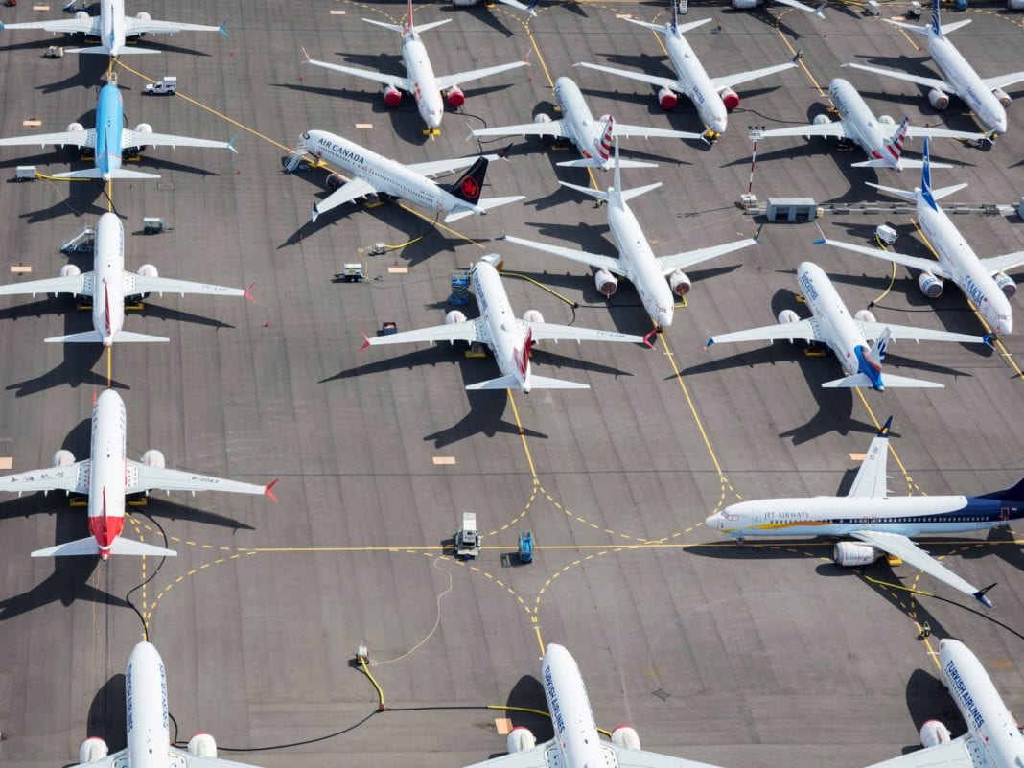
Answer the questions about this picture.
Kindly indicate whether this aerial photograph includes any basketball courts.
No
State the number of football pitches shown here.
zero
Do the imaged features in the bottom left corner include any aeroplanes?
Yes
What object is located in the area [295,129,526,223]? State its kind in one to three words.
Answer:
airplane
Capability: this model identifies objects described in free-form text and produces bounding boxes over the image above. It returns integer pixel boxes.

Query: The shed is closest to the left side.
[764,198,819,223]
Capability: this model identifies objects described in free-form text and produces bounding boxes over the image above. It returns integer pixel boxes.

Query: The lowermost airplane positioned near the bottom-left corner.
[72,643,253,768]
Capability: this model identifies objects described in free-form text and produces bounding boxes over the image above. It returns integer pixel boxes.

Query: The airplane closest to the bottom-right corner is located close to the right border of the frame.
[877,640,1024,768]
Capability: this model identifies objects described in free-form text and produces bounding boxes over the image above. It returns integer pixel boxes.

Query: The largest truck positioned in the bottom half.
[454,512,480,556]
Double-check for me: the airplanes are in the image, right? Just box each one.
[0,389,278,562]
[573,0,796,131]
[0,83,237,182]
[0,0,227,57]
[302,0,531,131]
[72,643,253,768]
[496,136,762,330]
[816,139,1024,330]
[707,261,996,394]
[473,644,721,768]
[361,260,657,395]
[0,214,255,346]
[843,0,1024,130]
[706,416,1024,607]
[758,79,995,172]
[467,77,711,171]
[877,640,1024,768]
[295,129,526,223]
